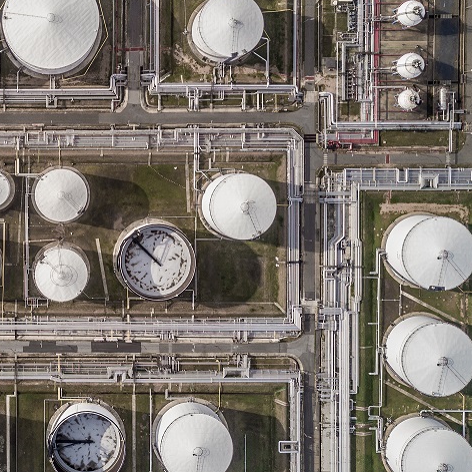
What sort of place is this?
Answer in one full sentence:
This image shows an industrial area.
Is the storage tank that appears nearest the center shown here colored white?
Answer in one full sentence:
Yes, white is the color of the storage tank that appears nearest the center.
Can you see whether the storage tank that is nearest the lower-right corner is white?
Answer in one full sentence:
Yes, white is the color of the storage tank that is nearest the lower-right corner.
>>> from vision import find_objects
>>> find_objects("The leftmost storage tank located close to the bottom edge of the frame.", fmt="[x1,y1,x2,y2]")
[45,389,127,472]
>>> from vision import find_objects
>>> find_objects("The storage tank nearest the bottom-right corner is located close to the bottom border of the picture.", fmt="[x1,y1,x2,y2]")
[372,412,472,472]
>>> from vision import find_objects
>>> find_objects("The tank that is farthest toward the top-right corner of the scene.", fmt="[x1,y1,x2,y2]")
[380,0,427,32]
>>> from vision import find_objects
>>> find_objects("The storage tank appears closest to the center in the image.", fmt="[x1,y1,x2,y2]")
[194,156,281,244]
